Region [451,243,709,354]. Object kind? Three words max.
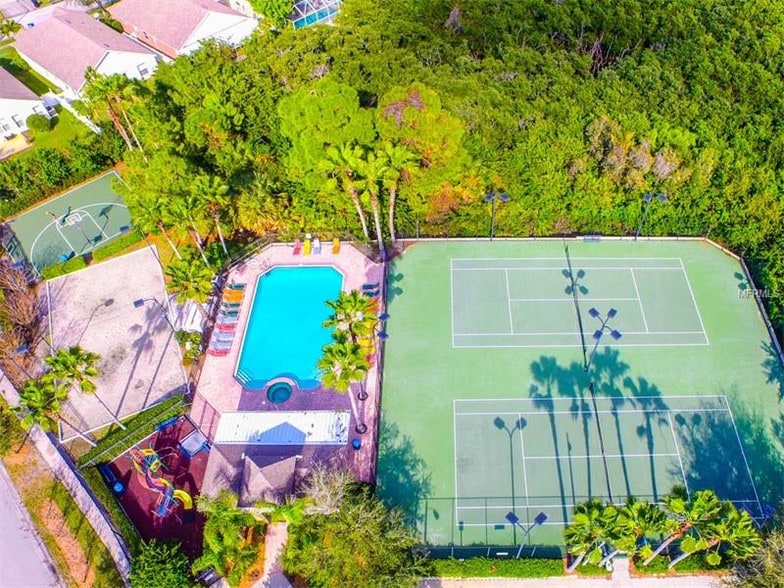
tennis court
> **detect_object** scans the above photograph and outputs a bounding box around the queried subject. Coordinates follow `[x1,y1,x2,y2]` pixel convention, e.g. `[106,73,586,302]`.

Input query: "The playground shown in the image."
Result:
[119,436,196,519]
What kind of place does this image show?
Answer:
sports ground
